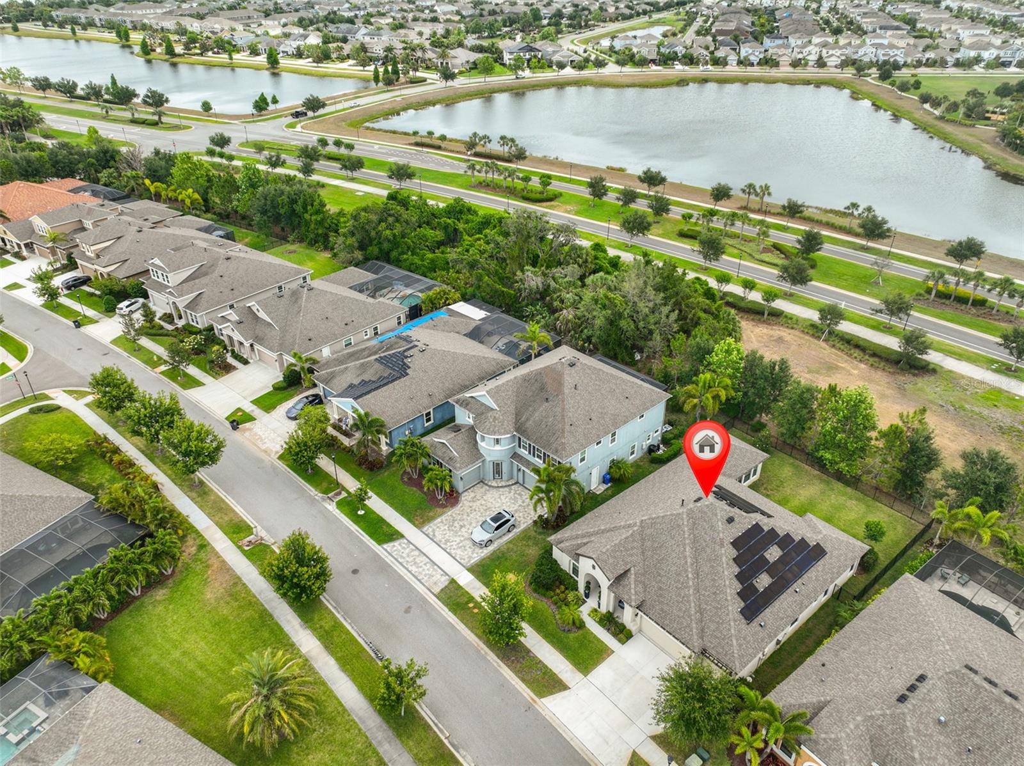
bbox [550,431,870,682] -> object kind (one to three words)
house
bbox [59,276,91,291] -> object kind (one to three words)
car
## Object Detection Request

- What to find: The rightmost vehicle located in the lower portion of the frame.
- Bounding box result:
[470,511,520,551]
